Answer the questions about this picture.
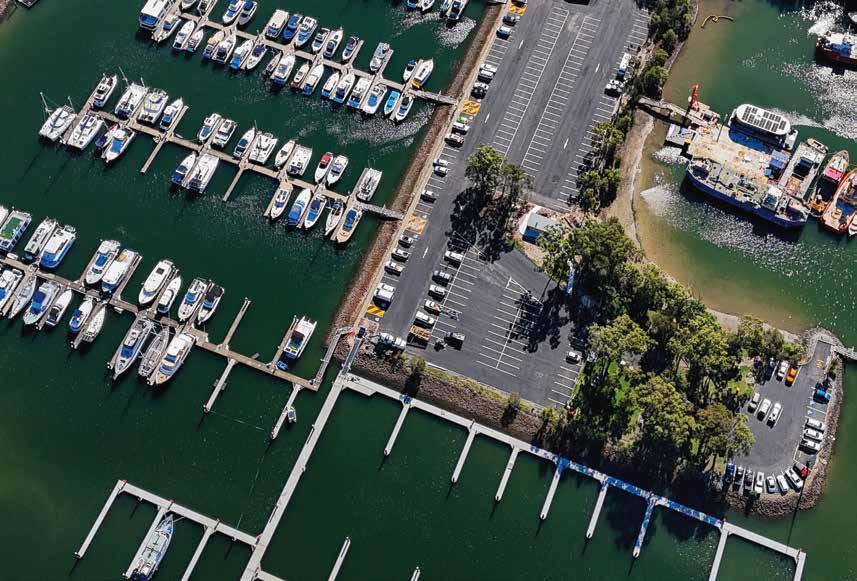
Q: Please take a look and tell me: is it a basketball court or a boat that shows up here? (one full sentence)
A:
There is a boat in the scene.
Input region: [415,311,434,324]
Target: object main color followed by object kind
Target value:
white vehicle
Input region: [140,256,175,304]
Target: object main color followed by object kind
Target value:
white boat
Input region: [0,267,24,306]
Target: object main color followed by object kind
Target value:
white boat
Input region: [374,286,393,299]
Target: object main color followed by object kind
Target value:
white vehicle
